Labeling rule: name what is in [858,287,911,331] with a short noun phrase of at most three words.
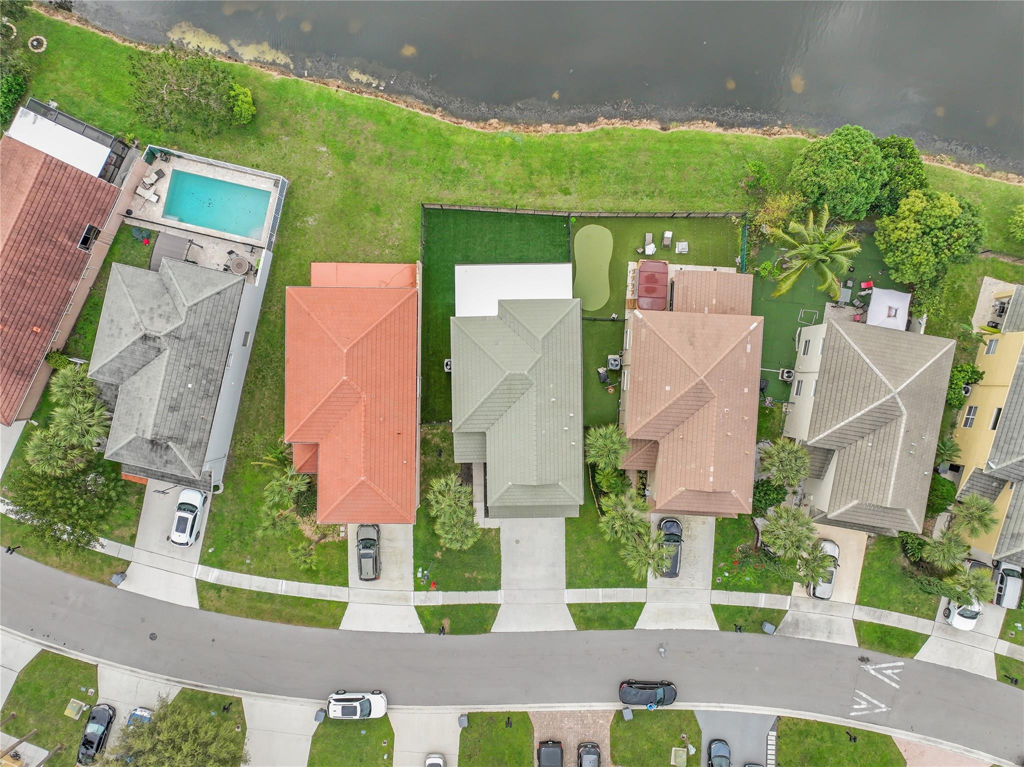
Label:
gazebo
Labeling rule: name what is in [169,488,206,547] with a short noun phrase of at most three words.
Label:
car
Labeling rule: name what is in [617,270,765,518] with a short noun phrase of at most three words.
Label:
house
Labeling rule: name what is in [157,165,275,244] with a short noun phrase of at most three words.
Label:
swimming pool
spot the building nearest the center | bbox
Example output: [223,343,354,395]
[450,263,585,518]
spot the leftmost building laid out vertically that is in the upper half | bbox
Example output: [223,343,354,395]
[0,105,132,427]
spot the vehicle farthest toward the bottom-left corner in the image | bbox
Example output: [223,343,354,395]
[74,705,114,767]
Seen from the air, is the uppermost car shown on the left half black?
No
